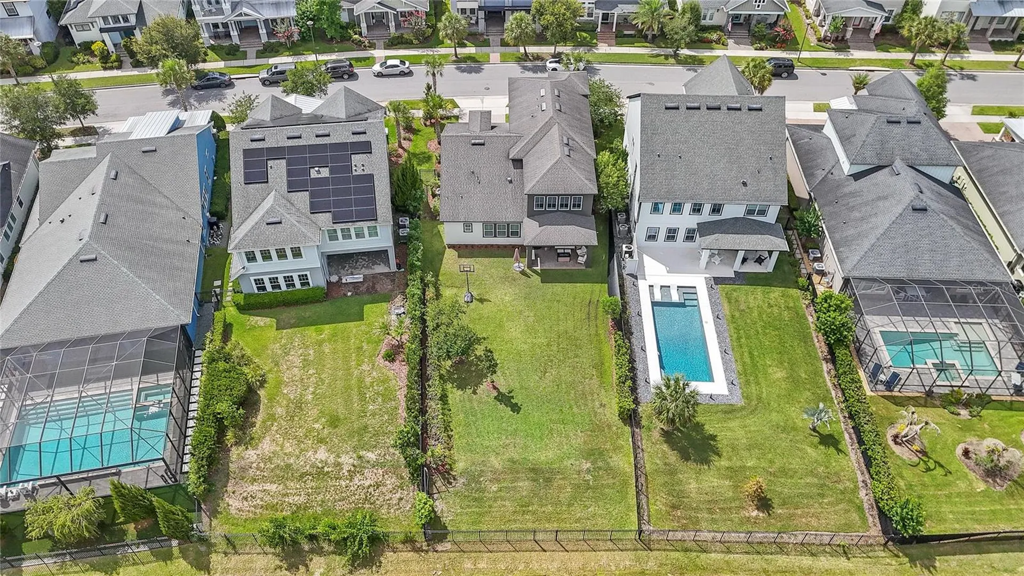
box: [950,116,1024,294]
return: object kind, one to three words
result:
house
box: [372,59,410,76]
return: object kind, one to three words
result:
car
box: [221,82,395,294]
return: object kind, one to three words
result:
house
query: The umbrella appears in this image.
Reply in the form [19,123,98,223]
[512,247,525,273]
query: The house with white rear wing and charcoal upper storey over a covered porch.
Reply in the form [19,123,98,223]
[437,70,599,268]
